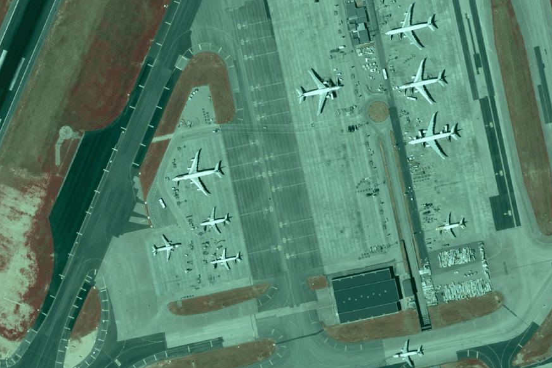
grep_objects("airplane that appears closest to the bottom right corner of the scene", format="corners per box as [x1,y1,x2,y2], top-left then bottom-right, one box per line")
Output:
[394,339,425,366]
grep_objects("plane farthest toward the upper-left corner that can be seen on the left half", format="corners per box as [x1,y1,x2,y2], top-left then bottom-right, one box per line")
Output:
[172,149,225,197]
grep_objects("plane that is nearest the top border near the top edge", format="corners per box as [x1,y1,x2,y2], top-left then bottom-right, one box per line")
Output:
[385,1,438,50]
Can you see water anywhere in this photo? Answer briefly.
No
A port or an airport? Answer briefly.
airport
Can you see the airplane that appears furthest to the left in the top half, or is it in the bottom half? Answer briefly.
bottom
